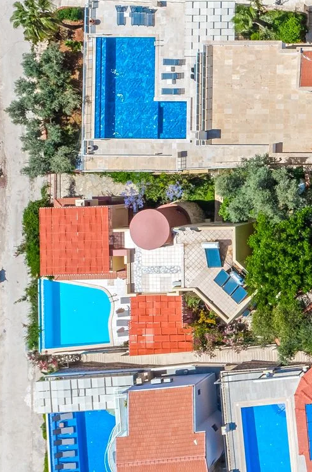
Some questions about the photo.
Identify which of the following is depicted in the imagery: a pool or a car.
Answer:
pool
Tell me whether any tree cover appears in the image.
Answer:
Yes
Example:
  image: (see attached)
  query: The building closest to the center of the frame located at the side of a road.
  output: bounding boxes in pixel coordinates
[53,193,259,323]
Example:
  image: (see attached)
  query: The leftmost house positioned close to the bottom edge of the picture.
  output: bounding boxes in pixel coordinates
[102,363,234,472]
